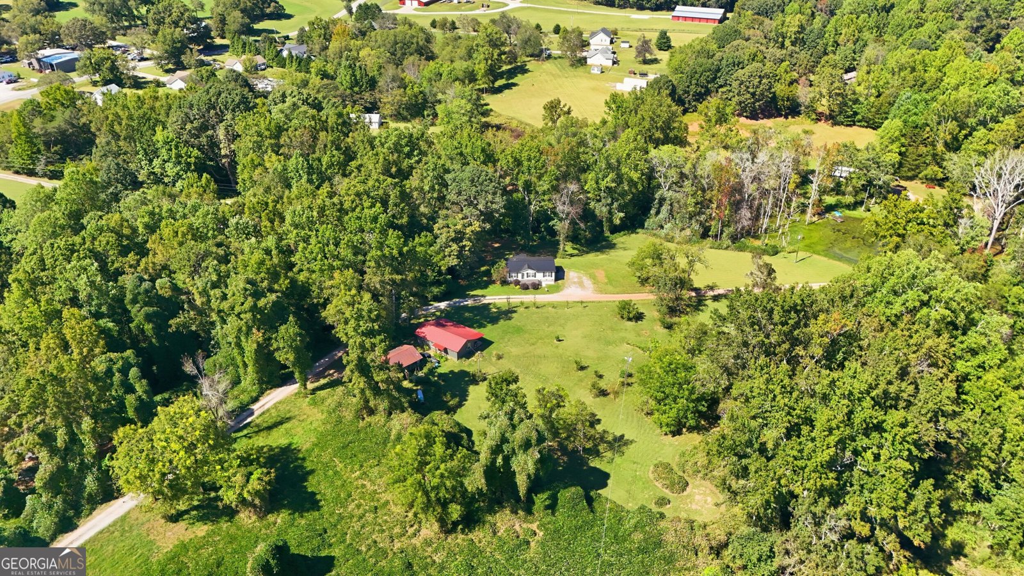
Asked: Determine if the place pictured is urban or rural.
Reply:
rural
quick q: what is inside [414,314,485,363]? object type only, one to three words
house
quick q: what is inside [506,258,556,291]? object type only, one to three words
house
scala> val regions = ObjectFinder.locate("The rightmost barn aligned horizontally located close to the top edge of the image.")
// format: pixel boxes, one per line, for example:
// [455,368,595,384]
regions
[672,4,721,24]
